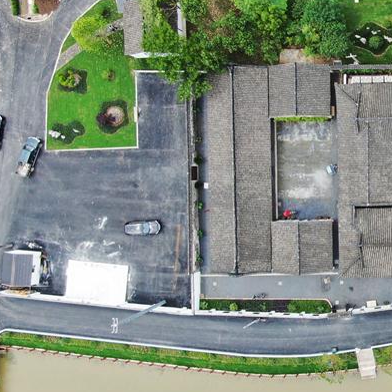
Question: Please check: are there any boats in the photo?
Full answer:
No, the picture doesn't show any boat.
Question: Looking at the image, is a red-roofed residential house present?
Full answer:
No, there is no red-roofed residential house in the image.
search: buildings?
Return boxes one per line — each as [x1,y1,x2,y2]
[198,59,335,278]
[335,82,392,278]
[121,0,163,62]
[4,250,43,287]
